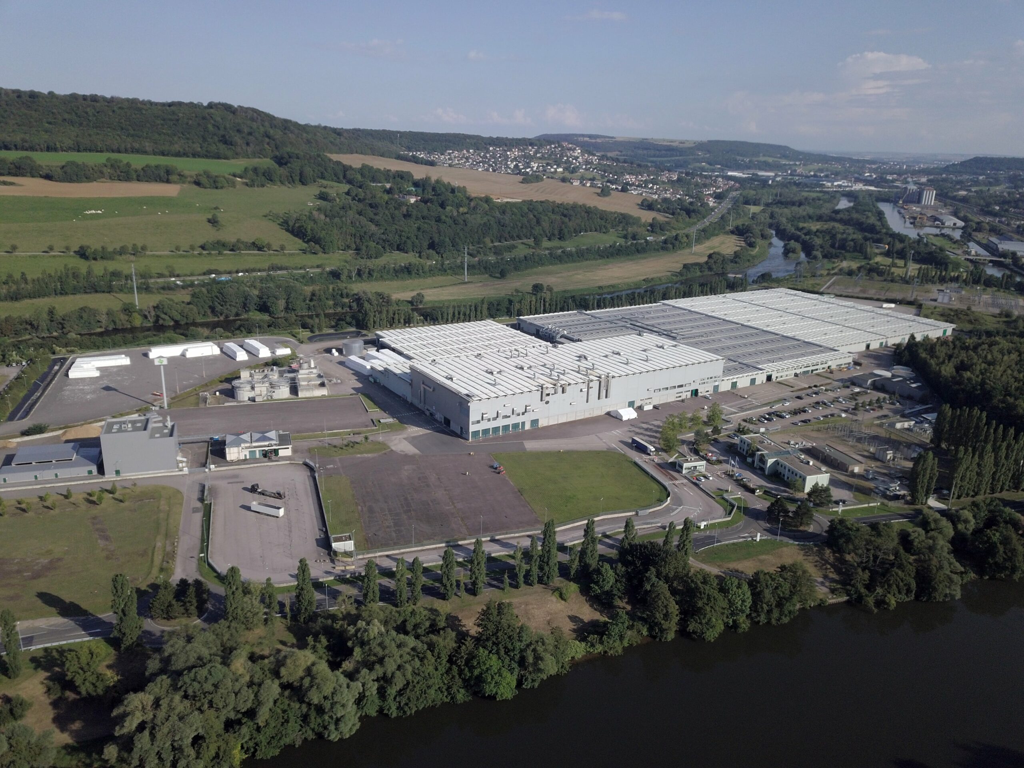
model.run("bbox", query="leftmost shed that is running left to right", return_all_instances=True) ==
[0,446,102,483]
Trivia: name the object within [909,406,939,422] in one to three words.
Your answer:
shed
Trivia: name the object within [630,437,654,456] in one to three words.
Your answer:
vehicle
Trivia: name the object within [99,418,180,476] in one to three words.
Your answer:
building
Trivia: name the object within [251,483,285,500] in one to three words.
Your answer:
vehicle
